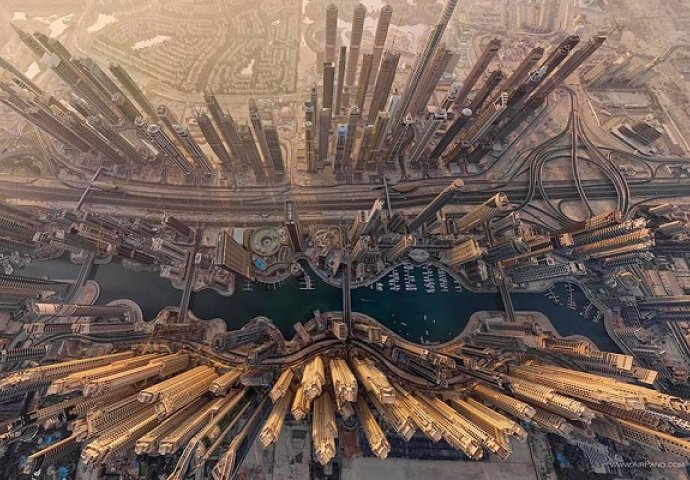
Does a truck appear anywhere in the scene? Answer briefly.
No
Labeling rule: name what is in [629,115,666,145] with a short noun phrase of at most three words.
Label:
building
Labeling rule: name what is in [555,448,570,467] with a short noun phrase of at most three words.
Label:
swimming pool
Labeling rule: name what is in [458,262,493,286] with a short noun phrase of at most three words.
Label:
building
